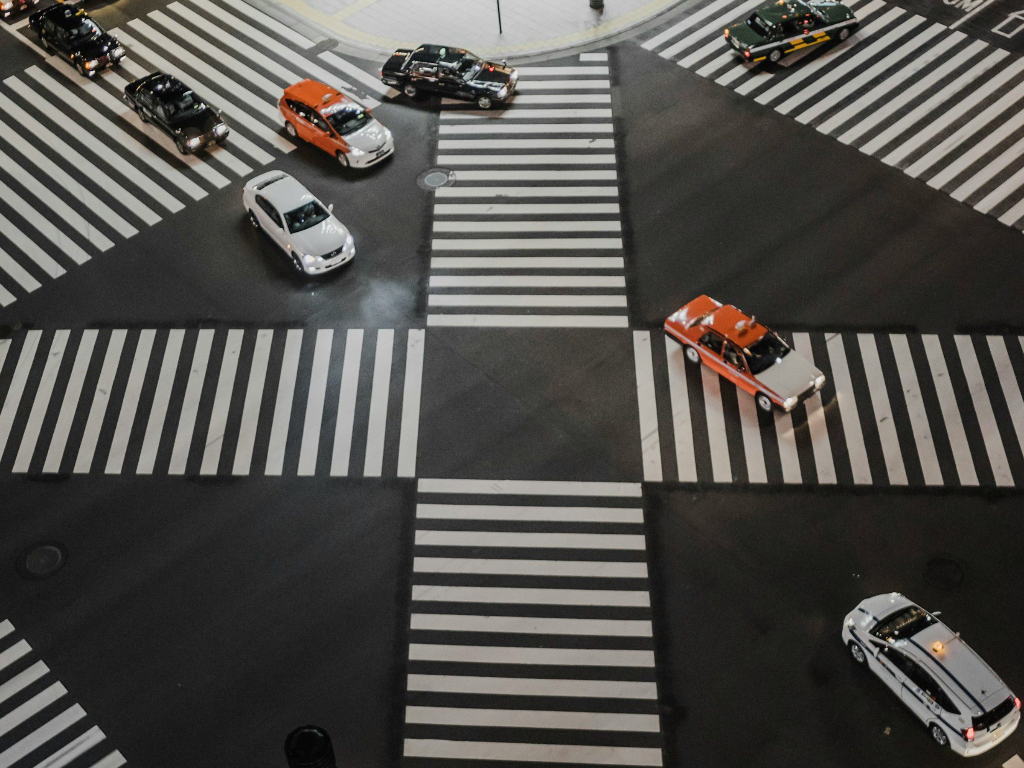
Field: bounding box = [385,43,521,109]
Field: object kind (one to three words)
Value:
car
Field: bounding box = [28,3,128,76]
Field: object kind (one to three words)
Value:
car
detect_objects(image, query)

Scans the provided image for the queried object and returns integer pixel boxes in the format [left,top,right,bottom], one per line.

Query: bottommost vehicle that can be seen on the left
[241,171,354,275]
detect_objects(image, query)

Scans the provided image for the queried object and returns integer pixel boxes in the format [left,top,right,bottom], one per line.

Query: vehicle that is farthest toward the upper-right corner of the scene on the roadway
[727,0,858,64]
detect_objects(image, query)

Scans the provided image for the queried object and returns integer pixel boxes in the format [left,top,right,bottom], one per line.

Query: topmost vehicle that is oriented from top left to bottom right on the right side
[666,299,824,416]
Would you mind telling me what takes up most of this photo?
paved ground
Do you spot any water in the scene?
No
